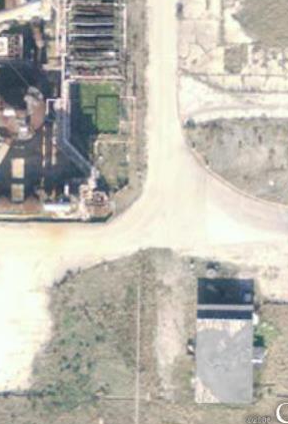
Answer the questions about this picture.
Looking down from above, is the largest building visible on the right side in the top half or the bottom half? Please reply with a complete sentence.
It is in the bottom half that the largest building visible on the right side appears.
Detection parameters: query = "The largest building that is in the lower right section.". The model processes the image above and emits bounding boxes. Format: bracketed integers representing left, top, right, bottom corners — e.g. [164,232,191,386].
[198,320,256,405]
